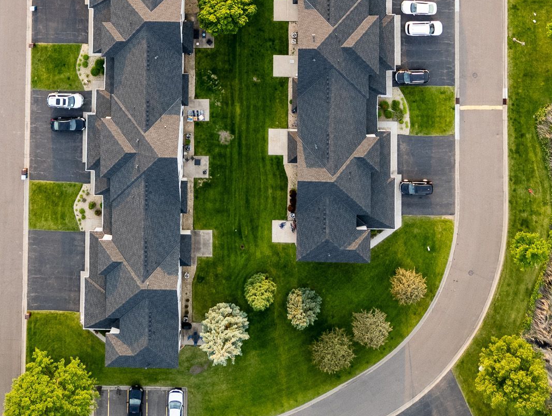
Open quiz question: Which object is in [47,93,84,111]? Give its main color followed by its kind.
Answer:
white car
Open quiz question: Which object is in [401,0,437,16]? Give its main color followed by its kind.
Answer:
white car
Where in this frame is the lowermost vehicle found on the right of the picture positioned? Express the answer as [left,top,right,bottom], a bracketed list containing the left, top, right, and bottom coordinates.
[400,178,434,197]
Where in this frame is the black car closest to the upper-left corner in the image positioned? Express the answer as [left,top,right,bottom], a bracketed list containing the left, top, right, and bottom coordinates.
[50,117,85,134]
